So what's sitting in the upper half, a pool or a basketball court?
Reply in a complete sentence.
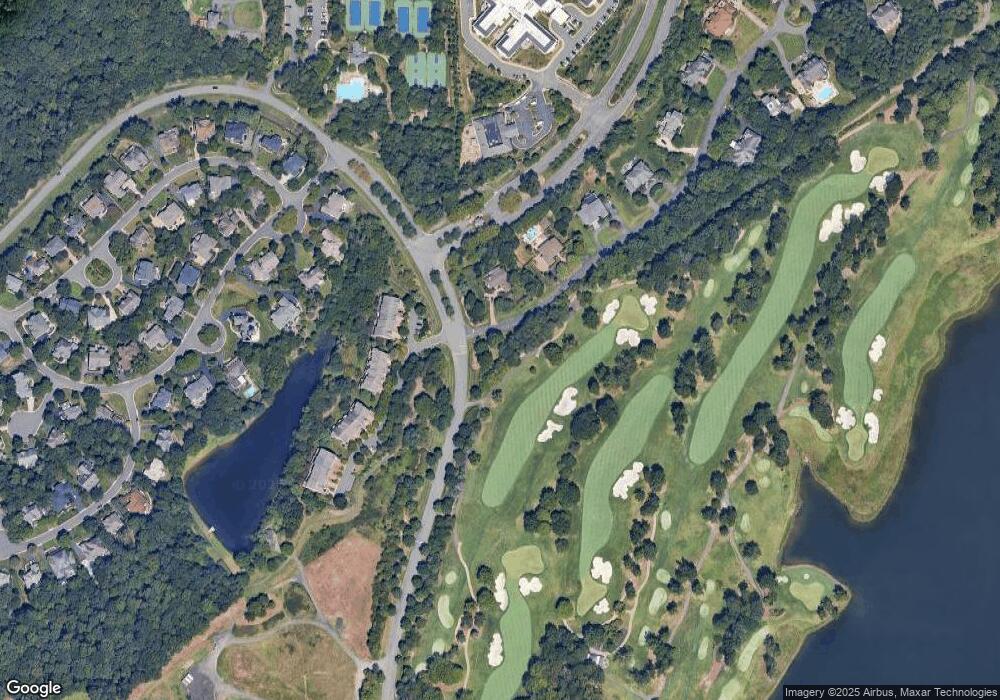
Visible in the upper half is a pool.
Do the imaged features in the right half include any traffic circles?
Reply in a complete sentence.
No, no traffic circle is visible in the right half.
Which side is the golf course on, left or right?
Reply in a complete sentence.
The golf course is on the right side of the image.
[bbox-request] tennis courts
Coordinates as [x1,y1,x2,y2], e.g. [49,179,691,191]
[346,0,365,30]
[365,0,385,30]
[414,0,433,38]
[395,0,413,38]
[427,53,446,88]
[405,53,426,88]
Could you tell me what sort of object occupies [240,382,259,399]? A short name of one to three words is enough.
swimming pool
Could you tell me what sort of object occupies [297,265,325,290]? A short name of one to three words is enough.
house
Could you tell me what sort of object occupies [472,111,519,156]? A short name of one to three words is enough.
building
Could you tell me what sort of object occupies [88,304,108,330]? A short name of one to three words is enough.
house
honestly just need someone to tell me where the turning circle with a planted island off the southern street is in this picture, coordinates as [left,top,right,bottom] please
[189,315,227,352]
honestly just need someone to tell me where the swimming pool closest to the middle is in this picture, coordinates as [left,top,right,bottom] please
[522,226,548,250]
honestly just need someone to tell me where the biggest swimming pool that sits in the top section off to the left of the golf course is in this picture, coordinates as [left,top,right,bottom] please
[333,72,383,105]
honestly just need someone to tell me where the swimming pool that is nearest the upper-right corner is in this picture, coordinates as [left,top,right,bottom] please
[807,79,839,107]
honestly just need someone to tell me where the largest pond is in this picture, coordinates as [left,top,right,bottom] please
[187,335,336,553]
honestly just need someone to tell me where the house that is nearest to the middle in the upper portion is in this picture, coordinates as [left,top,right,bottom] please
[483,268,510,292]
